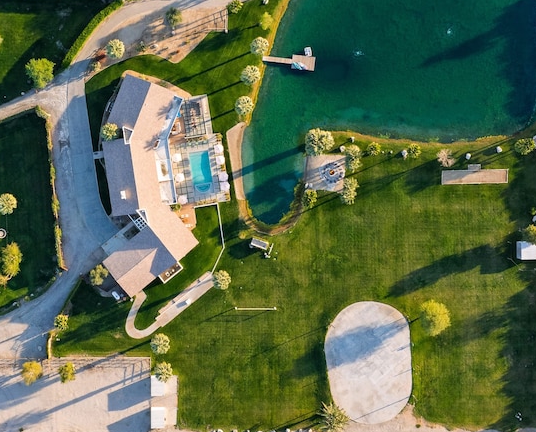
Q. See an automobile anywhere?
No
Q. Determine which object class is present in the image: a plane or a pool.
pool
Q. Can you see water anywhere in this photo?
Yes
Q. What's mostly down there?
grass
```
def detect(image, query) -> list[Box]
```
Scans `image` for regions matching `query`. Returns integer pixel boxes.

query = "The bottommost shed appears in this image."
[150,404,164,428]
